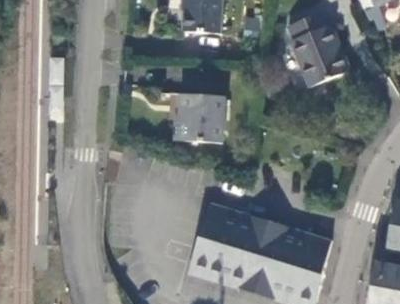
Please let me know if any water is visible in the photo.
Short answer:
No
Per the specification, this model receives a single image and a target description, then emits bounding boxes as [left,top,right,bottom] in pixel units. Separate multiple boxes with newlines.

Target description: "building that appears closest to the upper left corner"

[49,58,66,86]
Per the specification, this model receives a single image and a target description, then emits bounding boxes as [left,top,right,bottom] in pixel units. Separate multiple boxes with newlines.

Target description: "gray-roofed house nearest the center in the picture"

[173,94,228,144]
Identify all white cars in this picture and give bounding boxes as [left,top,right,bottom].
[221,184,244,198]
[198,38,220,48]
